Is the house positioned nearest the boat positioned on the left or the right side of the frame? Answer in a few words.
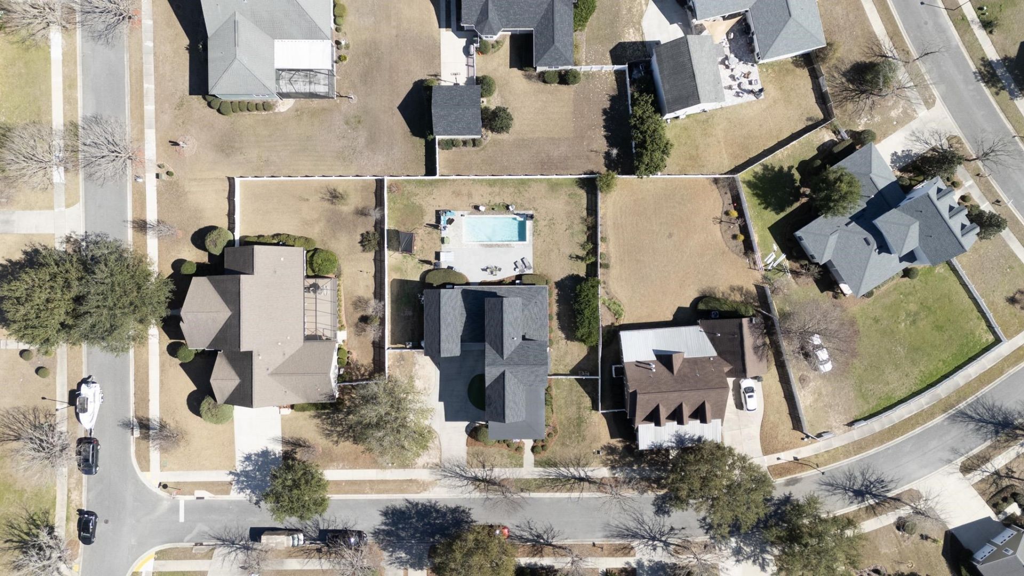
left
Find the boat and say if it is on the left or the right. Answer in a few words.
left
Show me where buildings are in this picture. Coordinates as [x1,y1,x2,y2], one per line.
[181,246,341,410]
[424,286,548,439]
[201,0,336,102]
[650,35,725,118]
[688,0,826,68]
[432,85,481,138]
[971,530,1024,576]
[462,0,573,72]
[793,142,980,298]
[612,317,767,449]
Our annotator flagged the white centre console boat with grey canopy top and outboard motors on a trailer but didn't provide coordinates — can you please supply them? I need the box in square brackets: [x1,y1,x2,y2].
[73,382,95,434]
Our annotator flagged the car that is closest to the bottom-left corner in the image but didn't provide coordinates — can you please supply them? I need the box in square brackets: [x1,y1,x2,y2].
[78,511,96,542]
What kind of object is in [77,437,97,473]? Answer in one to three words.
car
